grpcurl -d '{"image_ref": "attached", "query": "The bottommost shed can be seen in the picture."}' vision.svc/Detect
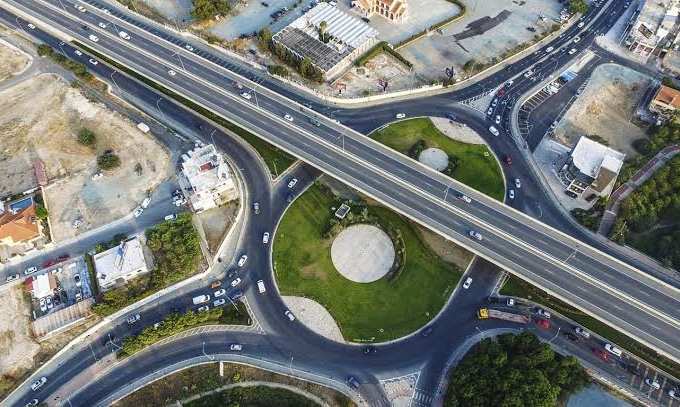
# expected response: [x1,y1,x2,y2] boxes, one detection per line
[33,299,96,339]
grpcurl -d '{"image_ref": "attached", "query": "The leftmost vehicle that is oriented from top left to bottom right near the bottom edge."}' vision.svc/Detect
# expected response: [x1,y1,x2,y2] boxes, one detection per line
[345,374,362,390]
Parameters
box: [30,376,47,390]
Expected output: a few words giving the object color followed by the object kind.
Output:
white car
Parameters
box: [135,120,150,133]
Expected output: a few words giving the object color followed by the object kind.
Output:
white vehicle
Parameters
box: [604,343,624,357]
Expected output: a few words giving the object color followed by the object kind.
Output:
white vehicle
